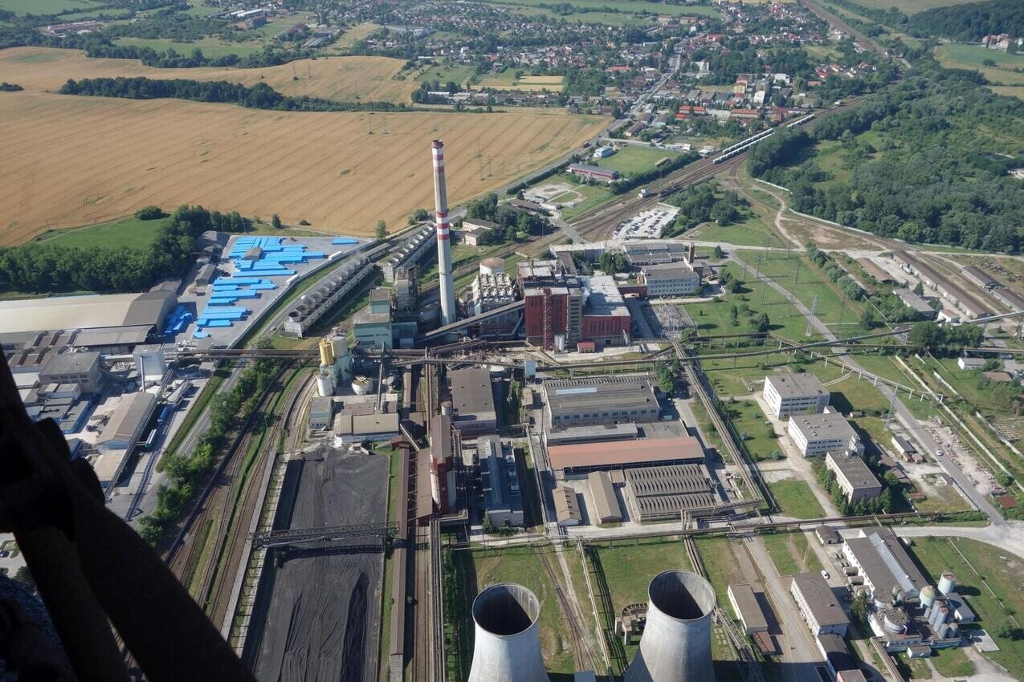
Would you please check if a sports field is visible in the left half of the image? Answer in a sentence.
No, no sports field is visible in the left half of the image.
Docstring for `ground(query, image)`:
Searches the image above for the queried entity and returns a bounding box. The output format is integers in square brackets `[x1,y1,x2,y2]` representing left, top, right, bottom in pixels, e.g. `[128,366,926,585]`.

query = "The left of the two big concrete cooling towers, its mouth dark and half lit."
[467,582,549,682]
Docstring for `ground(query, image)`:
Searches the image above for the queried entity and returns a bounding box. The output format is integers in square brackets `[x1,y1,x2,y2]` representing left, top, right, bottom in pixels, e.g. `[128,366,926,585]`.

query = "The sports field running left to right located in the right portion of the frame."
[598,145,681,175]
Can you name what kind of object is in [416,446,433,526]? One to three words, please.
shed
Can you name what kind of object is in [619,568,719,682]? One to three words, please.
cooling tower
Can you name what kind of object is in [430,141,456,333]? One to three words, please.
chimney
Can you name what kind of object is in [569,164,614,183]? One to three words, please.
building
